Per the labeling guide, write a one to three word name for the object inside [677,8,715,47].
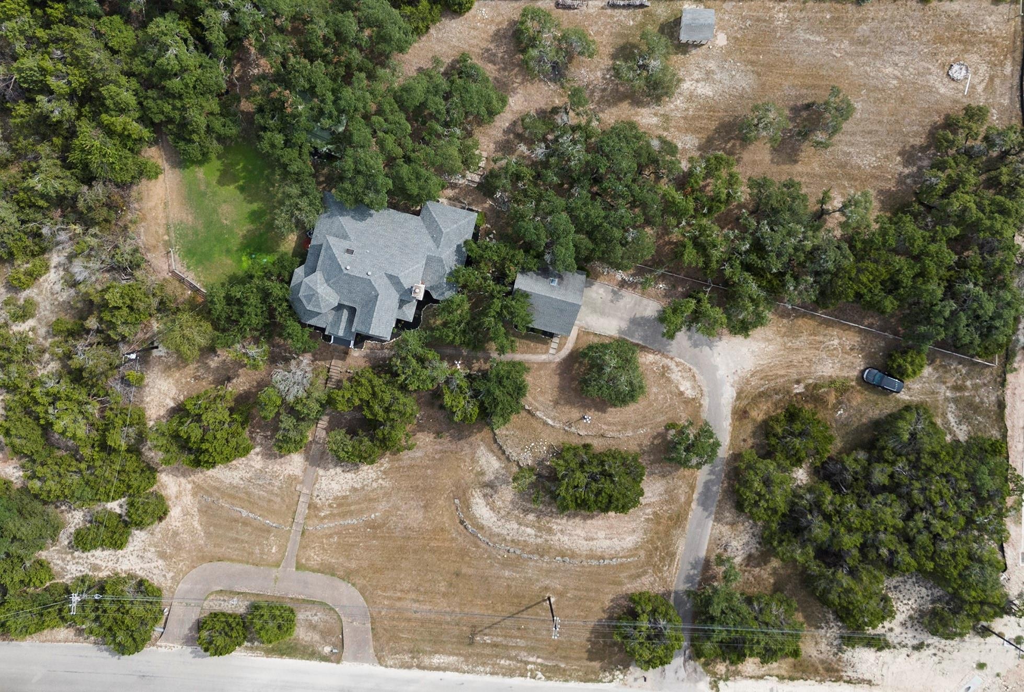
shed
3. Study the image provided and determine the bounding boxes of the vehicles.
[864,367,910,394]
